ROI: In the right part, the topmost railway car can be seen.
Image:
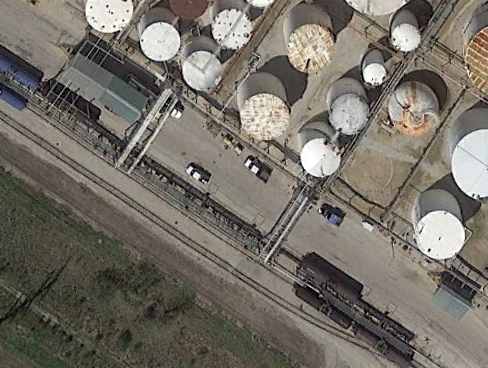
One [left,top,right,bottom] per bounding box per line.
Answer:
[301,261,360,305]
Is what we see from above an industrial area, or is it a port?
industrial area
